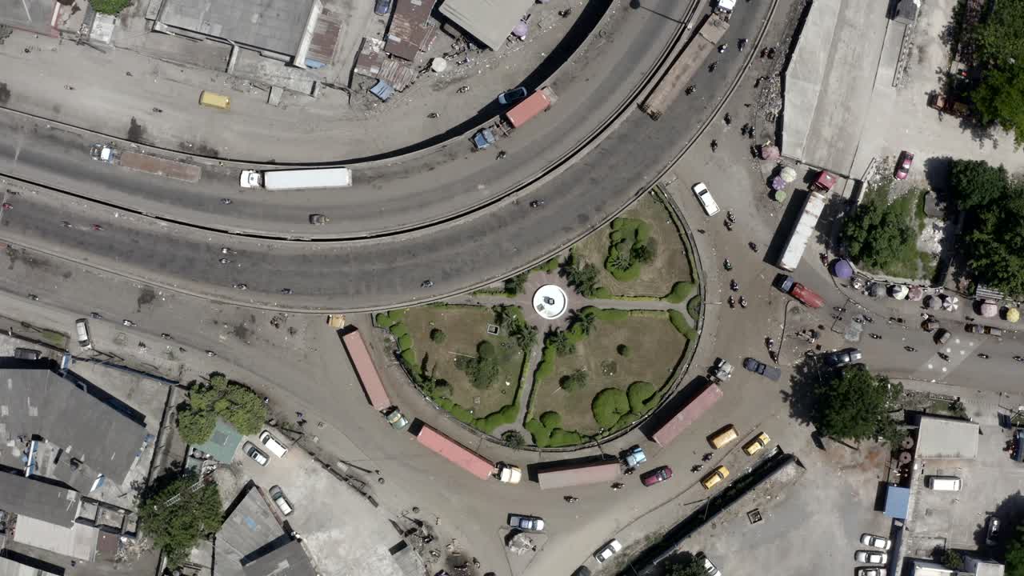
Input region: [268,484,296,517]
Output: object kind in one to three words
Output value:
car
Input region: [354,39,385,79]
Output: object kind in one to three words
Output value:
shed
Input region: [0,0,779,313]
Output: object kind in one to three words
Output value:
overpass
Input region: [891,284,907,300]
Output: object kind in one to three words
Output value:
umbrella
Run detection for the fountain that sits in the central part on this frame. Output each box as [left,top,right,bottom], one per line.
[533,285,566,318]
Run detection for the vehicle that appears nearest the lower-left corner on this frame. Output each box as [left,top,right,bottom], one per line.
[12,345,48,360]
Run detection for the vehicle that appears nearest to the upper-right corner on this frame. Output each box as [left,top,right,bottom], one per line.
[921,89,967,119]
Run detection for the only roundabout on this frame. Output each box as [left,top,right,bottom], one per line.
[369,179,722,460]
